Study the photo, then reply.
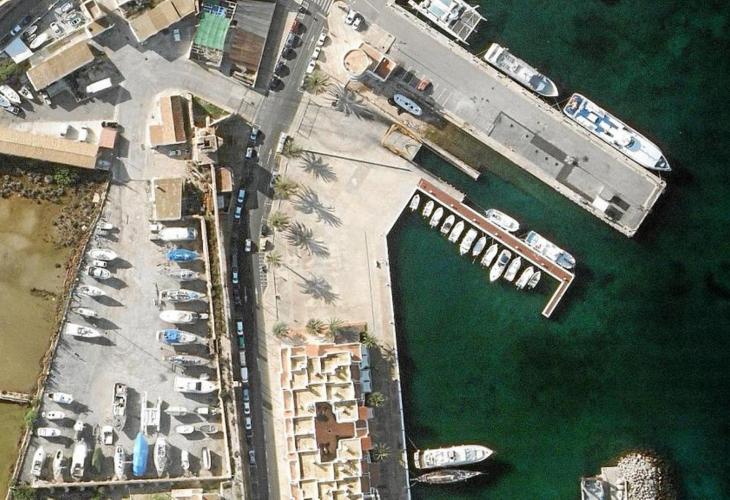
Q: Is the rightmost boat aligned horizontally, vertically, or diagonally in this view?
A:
diagonally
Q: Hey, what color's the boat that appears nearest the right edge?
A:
white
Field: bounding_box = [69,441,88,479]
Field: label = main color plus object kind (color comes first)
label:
white boat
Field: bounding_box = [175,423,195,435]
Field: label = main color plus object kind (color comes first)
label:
white boat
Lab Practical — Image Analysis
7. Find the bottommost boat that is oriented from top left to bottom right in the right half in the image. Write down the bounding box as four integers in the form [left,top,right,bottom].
[526,229,576,268]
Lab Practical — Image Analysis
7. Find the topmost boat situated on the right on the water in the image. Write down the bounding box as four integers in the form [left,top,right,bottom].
[409,0,484,42]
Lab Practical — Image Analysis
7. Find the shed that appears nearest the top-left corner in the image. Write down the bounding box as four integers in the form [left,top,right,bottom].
[6,36,34,64]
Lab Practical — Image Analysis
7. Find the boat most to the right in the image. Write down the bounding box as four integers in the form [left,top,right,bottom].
[563,91,673,170]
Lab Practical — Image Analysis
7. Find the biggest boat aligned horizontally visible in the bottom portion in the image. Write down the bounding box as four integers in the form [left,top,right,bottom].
[415,444,494,471]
